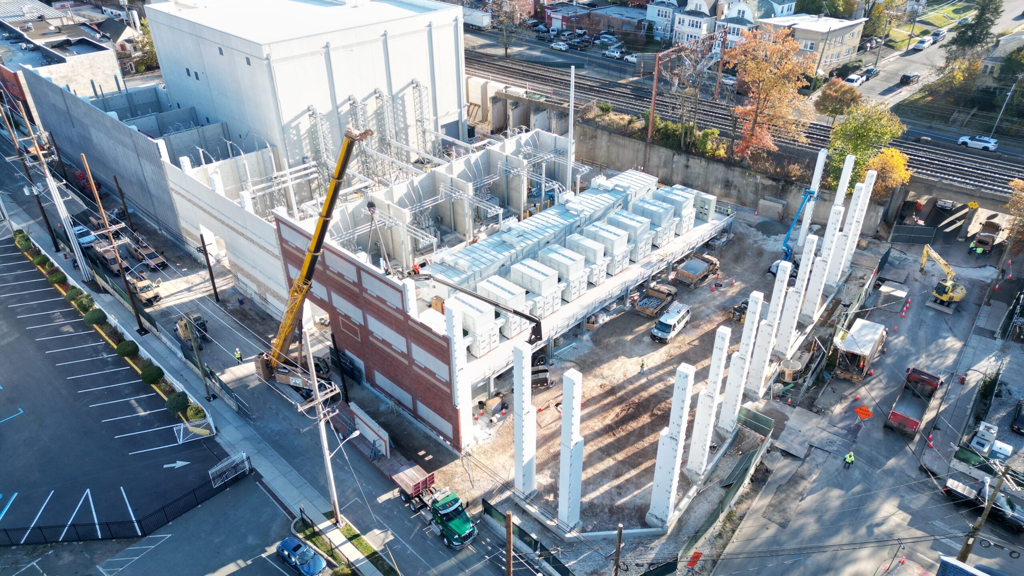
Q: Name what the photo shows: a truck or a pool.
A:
truck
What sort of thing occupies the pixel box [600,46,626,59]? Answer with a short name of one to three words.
vehicle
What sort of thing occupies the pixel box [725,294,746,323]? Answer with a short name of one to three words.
work vehicle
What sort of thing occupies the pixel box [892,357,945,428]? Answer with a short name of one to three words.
truck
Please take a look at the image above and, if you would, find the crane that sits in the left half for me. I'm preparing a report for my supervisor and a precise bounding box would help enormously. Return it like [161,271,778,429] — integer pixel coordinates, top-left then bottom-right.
[249,112,377,422]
